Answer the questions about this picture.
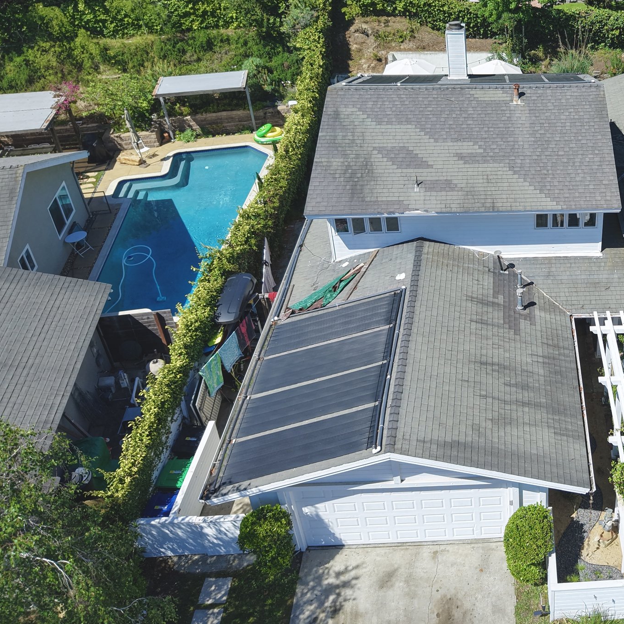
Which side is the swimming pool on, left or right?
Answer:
left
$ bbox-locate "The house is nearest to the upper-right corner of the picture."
[192,17,624,557]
